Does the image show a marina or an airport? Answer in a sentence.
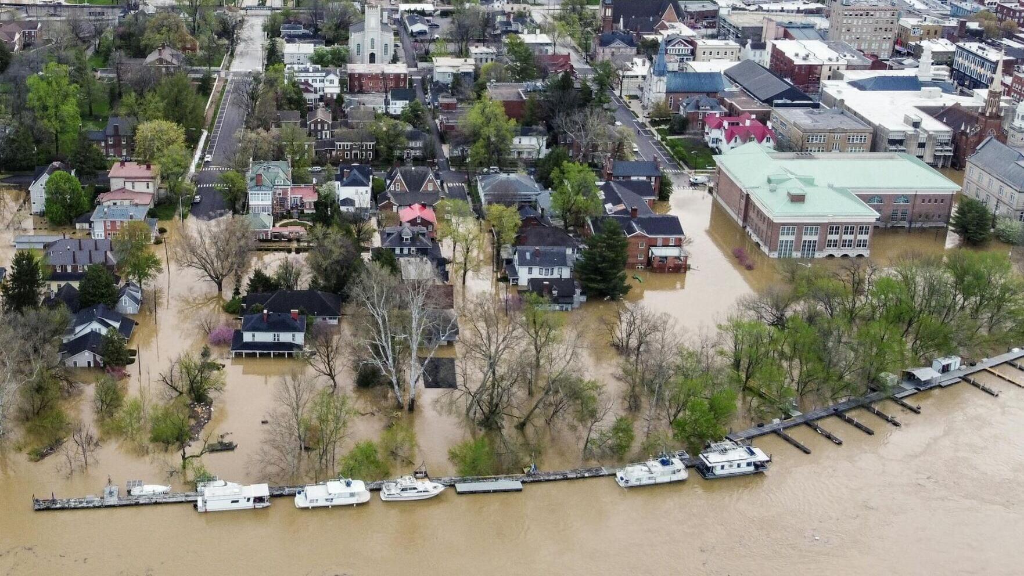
The picture captures a marina.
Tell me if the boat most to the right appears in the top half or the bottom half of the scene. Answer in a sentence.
Seen from above, the boat most to the right lies in the bottom half of the view.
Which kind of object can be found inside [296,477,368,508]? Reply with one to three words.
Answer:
boat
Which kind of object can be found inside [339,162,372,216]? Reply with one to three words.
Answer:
house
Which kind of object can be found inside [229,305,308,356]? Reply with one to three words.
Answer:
house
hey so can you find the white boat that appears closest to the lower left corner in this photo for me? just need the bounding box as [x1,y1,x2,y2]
[128,476,170,494]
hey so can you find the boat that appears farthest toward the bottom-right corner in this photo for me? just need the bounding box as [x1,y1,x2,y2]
[693,439,773,478]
